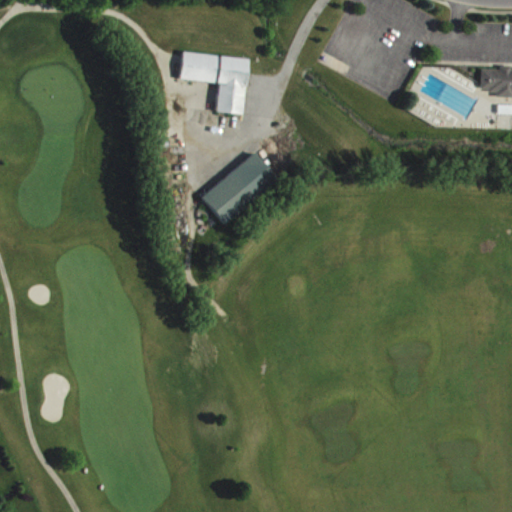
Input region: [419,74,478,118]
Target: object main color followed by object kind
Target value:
blue swimming pool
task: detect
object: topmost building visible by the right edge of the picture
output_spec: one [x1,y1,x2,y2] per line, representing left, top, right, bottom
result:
[481,68,512,96]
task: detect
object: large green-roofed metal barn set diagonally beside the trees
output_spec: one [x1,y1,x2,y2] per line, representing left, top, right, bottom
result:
[204,154,280,224]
